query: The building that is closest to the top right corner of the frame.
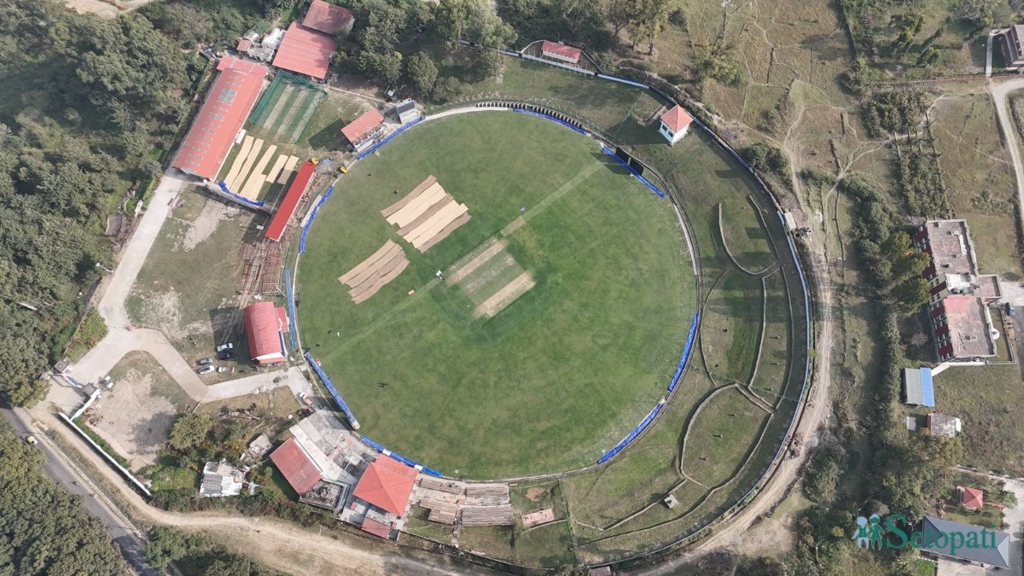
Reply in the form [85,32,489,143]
[995,25,1024,76]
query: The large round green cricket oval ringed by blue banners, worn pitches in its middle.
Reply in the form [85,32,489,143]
[295,110,696,479]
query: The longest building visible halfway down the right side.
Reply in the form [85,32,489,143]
[915,218,1004,364]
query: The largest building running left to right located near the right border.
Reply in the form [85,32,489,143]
[916,518,1009,569]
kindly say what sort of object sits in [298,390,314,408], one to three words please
vehicle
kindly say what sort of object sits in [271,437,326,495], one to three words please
house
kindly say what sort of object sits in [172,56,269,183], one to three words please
building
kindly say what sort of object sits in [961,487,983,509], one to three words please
gazebo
